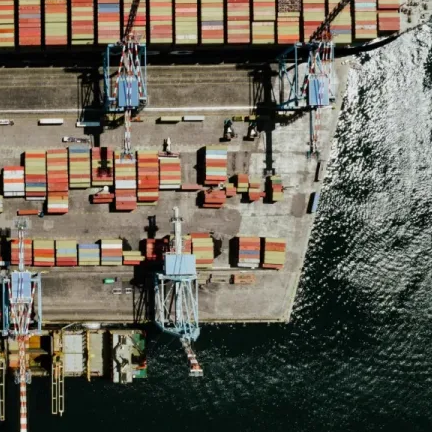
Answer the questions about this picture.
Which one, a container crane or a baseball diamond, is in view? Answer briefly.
container crane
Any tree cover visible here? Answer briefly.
No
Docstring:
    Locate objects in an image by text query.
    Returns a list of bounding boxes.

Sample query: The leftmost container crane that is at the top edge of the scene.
[104,0,147,155]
